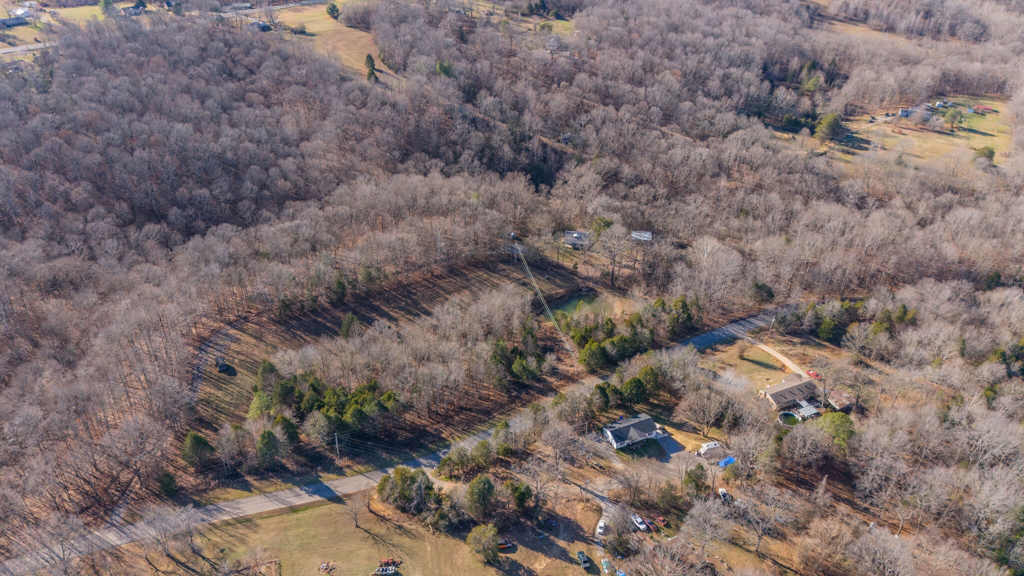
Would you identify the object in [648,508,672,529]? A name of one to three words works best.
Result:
truck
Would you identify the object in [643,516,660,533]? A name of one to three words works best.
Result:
car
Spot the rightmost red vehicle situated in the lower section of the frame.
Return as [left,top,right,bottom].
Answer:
[804,368,825,382]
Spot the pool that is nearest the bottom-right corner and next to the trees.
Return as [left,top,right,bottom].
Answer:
[779,412,802,431]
